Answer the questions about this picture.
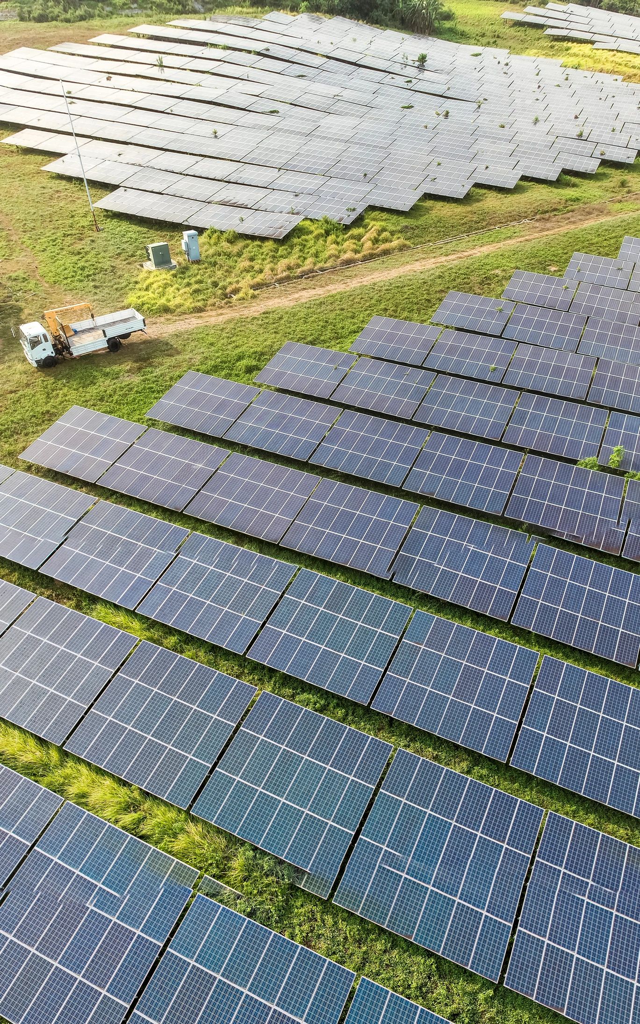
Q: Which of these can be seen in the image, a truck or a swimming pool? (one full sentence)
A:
Visible in the photo is a truck.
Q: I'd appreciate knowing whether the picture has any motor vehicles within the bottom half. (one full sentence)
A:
No, I can find no motor vehicle within the bottom half.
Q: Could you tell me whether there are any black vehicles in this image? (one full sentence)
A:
No, no black vehicle can be seen from above.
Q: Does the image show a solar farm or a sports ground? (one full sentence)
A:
What you see here is a solar farm.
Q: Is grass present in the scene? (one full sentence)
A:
Yes, grass can be seen from above here.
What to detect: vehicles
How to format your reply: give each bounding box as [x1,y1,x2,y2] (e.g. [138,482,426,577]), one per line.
[18,301,151,367]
